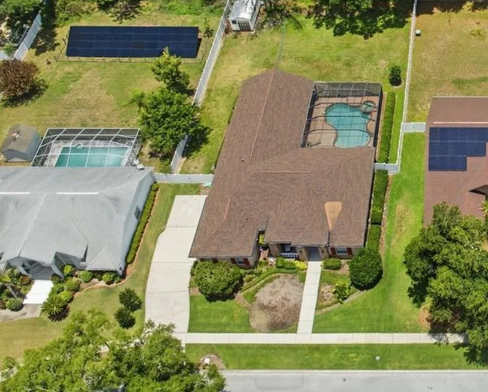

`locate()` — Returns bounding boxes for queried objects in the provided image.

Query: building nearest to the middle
[189,71,376,266]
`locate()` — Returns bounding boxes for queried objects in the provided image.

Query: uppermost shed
[229,0,263,26]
